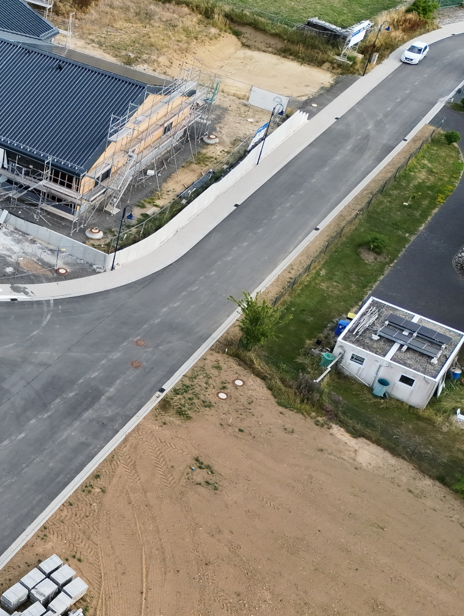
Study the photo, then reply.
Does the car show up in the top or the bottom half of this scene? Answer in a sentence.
The top half of the photo is where the car is.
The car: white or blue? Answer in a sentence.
The car is white.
